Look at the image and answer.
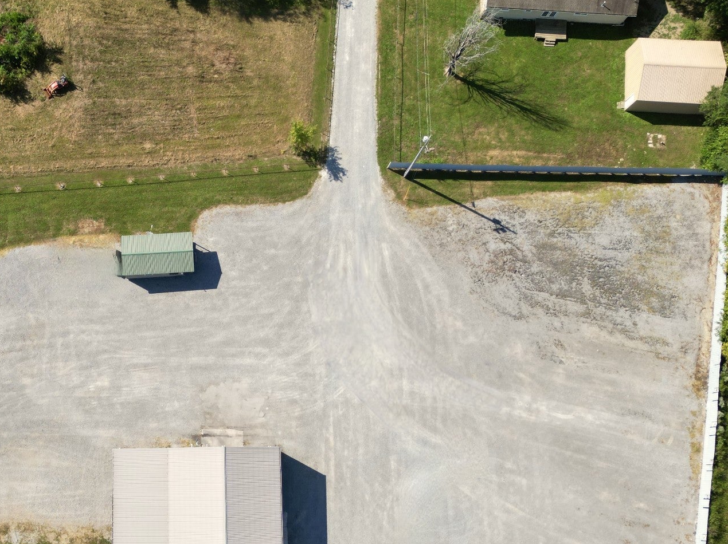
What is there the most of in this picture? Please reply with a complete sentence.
The largest share of the image is taken up by paved ground.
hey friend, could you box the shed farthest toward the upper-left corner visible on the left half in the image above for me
[120,231,194,277]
